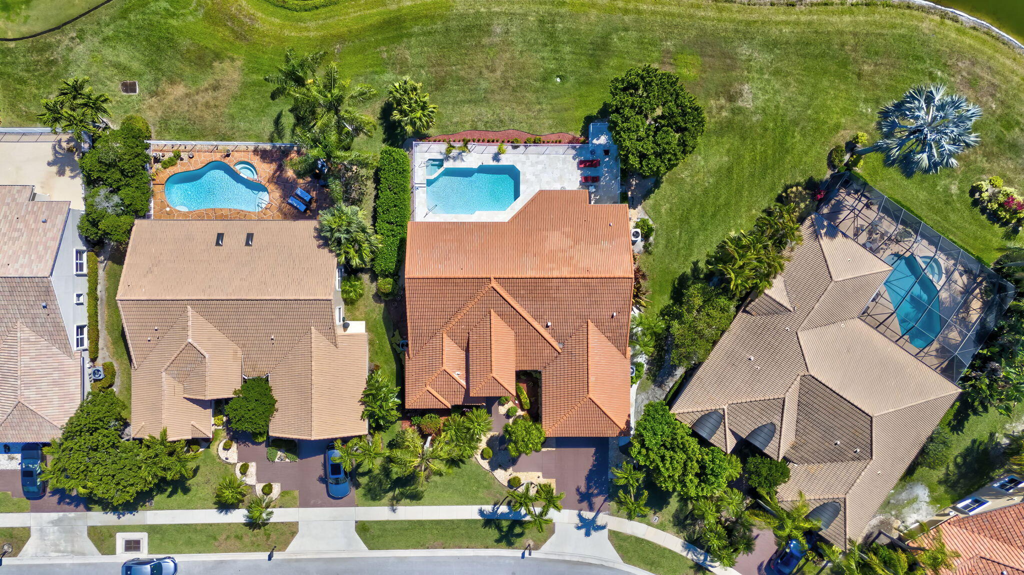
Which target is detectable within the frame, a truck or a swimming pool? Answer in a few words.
swimming pool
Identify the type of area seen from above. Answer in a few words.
residential area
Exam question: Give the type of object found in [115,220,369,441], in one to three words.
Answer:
house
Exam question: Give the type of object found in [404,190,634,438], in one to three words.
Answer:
house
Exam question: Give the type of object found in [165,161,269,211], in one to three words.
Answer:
swimming pool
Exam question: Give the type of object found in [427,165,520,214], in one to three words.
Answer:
swimming pool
